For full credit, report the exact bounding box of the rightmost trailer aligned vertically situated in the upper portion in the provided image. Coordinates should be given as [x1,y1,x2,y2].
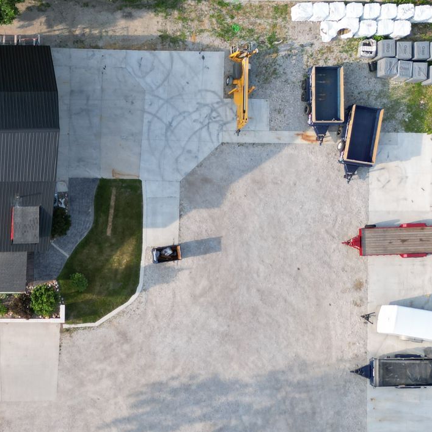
[335,105,382,182]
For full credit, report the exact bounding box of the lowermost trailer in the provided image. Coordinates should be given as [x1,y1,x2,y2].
[352,354,432,390]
